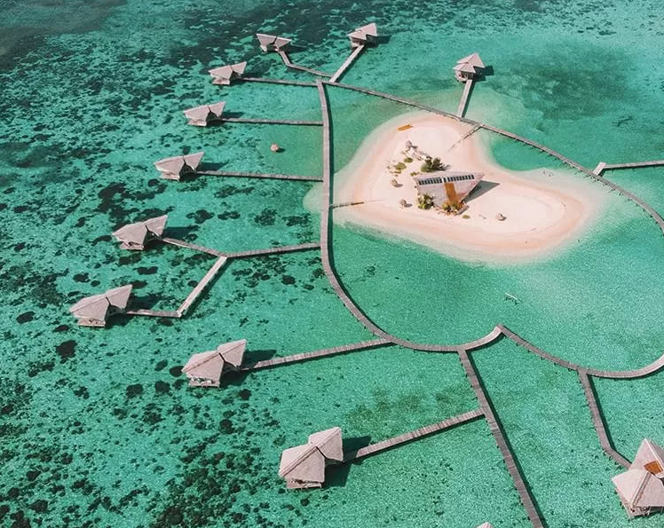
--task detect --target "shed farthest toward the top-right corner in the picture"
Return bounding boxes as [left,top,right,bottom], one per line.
[455,53,484,86]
